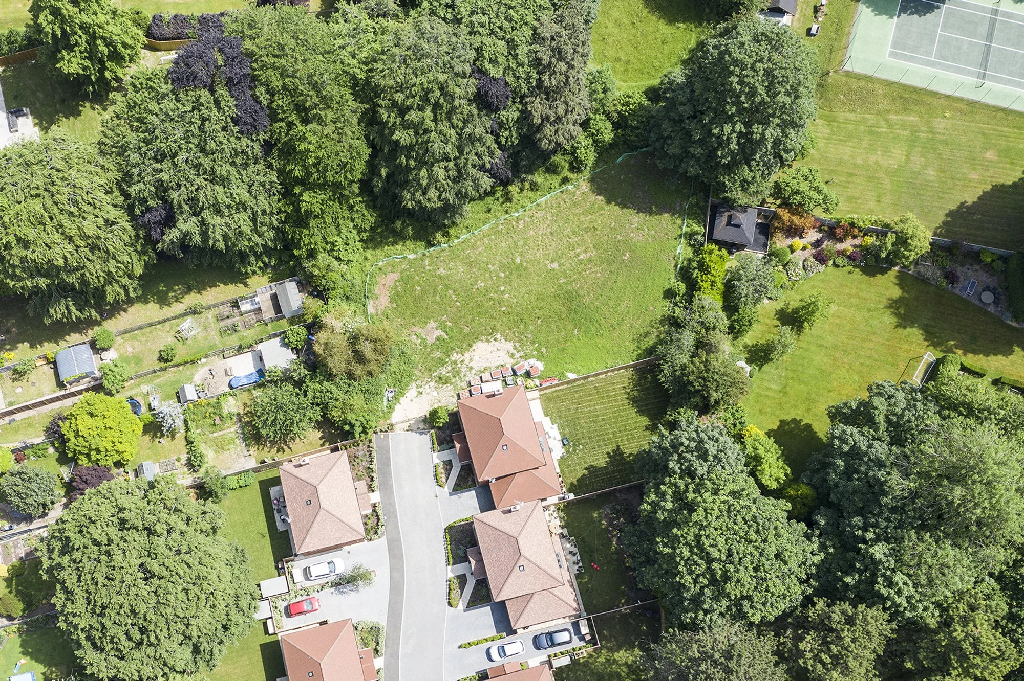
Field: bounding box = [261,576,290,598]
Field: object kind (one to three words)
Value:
shed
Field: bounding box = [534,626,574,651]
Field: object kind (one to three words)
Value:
car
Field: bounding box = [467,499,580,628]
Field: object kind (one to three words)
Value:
house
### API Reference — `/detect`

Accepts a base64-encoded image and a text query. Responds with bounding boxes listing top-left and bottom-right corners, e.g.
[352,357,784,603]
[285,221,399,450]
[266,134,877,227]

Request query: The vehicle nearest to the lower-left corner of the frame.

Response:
[287,596,321,618]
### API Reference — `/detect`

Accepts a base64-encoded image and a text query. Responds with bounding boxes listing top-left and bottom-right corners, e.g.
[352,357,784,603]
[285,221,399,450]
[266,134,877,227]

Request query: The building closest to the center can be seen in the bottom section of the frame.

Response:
[452,385,562,509]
